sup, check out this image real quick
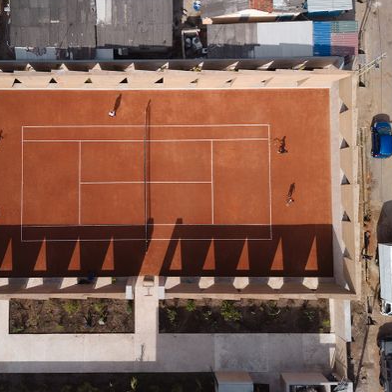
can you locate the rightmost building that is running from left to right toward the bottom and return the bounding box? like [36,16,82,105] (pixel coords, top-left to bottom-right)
[280,373,354,392]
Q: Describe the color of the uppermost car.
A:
blue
